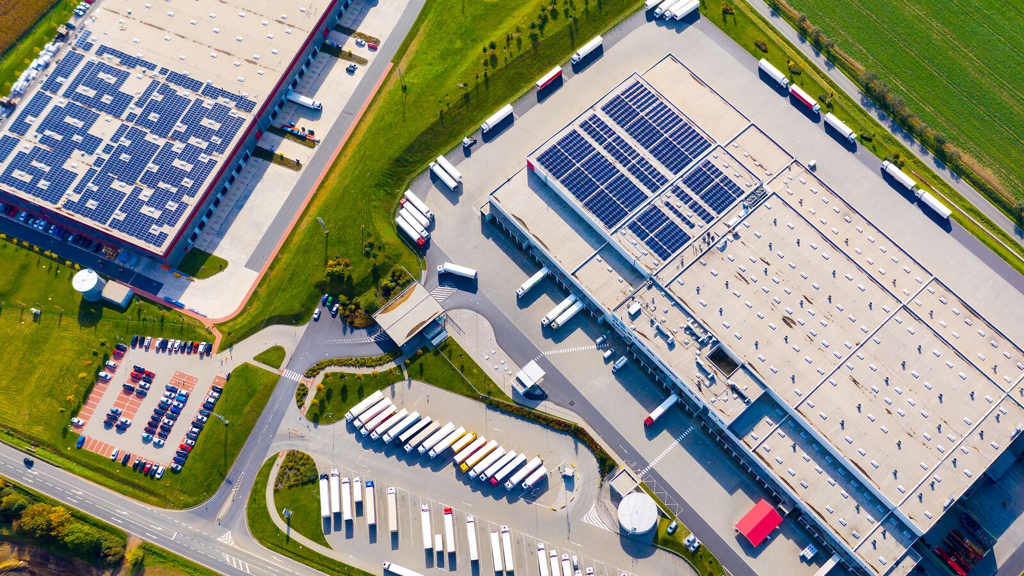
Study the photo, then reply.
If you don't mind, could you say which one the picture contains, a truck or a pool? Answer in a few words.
truck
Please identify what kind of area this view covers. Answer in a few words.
industrial area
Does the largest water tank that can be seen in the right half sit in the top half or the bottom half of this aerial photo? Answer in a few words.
bottom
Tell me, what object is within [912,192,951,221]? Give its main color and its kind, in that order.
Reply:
white truck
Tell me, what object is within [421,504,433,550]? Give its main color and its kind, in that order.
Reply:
white vehicle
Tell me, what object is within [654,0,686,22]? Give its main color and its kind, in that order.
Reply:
white truck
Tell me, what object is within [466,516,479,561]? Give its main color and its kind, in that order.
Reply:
white vehicle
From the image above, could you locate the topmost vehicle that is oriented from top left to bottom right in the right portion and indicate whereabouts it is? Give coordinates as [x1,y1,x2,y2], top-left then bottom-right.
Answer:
[756,60,788,91]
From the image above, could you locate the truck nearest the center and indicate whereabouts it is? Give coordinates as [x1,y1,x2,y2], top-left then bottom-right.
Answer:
[516,268,550,299]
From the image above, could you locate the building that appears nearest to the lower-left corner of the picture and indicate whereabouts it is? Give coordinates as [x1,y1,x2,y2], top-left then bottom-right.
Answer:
[101,280,136,308]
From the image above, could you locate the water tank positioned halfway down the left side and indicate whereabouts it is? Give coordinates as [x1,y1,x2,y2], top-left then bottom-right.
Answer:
[72,269,108,300]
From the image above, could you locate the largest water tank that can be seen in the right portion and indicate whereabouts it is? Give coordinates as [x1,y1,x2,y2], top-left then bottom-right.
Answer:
[616,492,658,535]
